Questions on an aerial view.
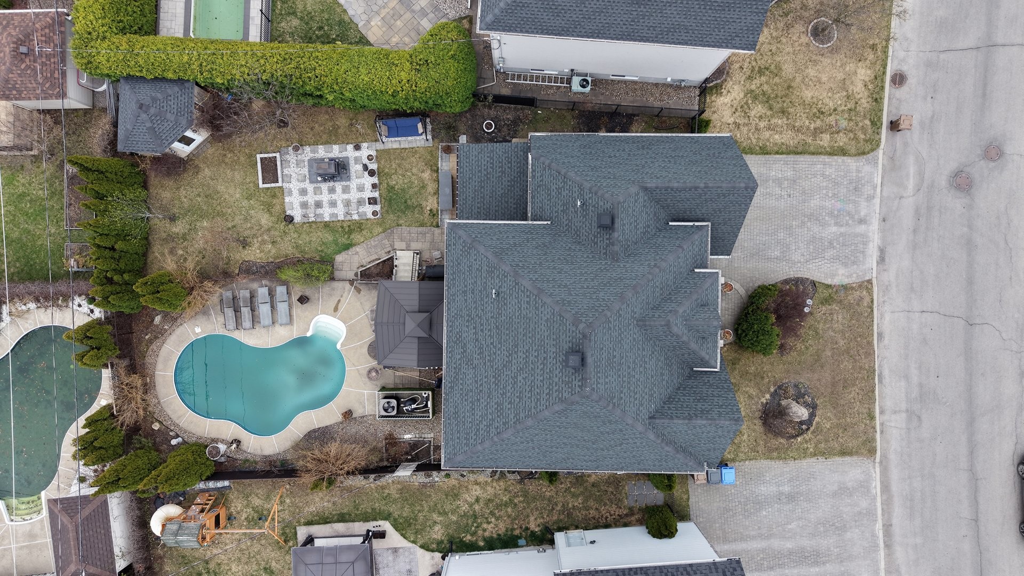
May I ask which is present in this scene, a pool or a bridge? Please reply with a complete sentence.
The image shows a pool.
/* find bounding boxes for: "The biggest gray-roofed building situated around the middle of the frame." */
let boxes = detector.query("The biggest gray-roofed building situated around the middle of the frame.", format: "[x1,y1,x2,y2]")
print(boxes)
[443,131,759,475]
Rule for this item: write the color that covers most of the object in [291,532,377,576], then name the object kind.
gray gazebo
